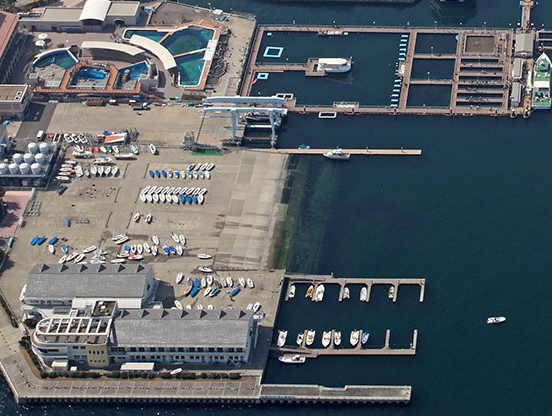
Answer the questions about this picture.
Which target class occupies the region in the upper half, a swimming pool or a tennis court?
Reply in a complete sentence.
Visible in the upper half is a swimming pool.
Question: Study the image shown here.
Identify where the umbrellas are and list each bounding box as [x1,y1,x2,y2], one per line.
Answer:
[35,31,48,40]
[33,38,45,50]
